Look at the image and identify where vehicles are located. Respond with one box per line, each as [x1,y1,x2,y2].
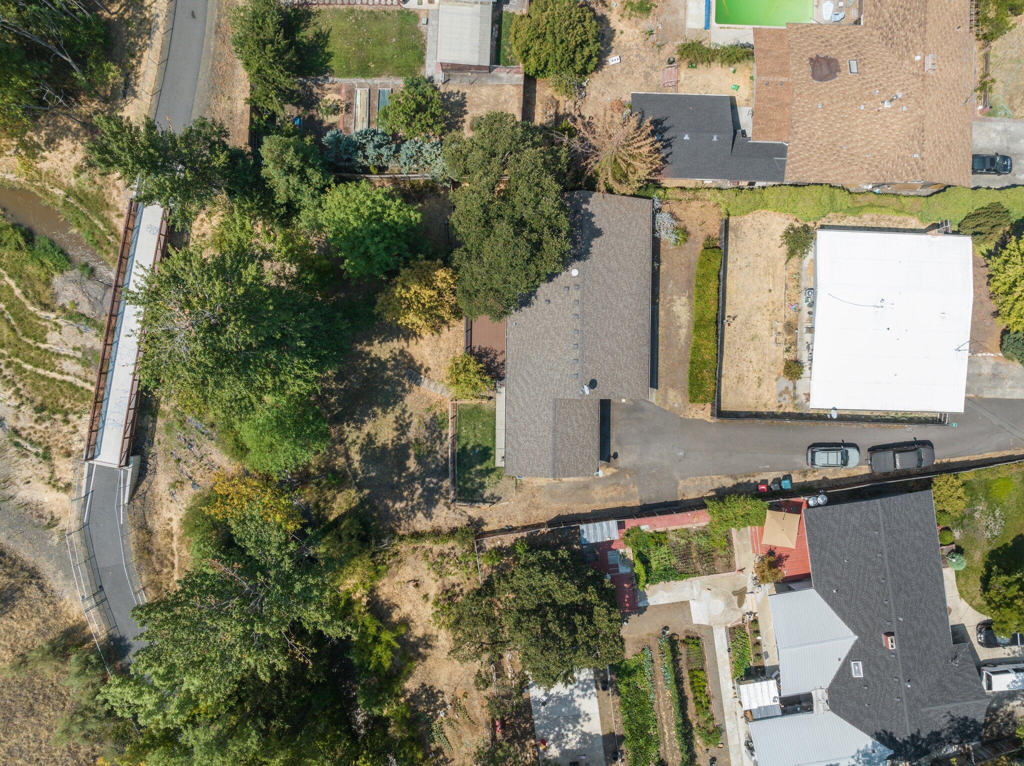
[865,444,936,473]
[971,150,1011,177]
[805,444,860,470]
[978,663,1024,695]
[973,621,1021,648]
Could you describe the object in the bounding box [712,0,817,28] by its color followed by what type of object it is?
green swimming pool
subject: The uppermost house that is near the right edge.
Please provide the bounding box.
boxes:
[745,0,975,191]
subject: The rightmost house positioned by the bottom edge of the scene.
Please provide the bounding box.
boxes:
[798,489,989,766]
